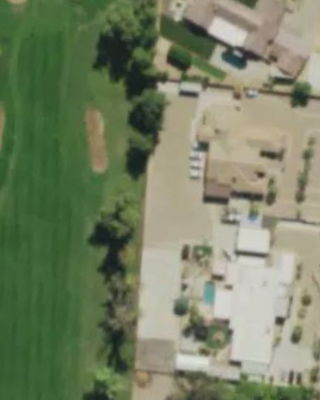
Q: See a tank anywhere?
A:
No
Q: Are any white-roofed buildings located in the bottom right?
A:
Yes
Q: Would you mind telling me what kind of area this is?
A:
golf course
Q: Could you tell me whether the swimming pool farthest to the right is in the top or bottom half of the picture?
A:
top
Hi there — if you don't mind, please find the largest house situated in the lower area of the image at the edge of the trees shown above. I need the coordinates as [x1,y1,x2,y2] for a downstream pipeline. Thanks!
[213,253,296,373]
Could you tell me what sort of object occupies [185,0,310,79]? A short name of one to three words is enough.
house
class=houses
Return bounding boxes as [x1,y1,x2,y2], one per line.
[185,0,310,79]
[213,253,296,373]
[197,125,287,201]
